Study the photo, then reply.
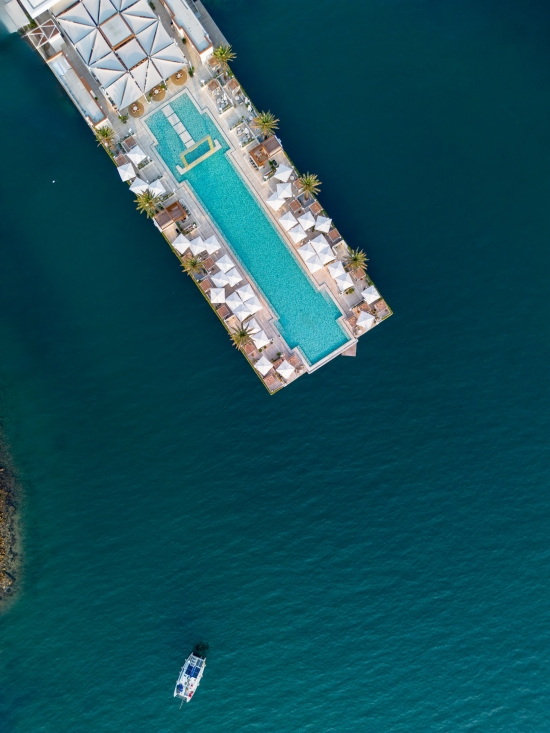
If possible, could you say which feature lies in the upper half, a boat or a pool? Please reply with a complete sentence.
Looking in the upper half, you will find a pool.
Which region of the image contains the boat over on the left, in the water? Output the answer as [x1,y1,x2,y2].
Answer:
[170,652,208,710]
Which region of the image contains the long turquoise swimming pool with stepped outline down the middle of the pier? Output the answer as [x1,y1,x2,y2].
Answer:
[139,87,357,374]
